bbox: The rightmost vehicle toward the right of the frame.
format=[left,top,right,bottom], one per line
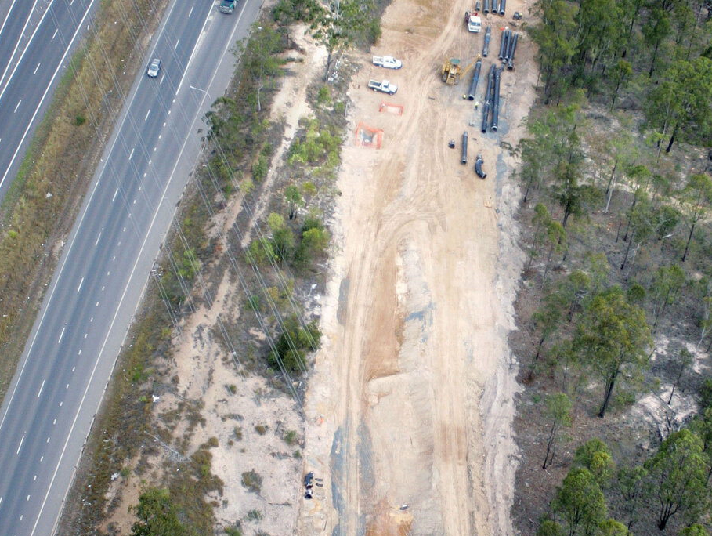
[465,6,482,31]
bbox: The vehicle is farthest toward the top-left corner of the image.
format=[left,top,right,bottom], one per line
[146,56,162,77]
